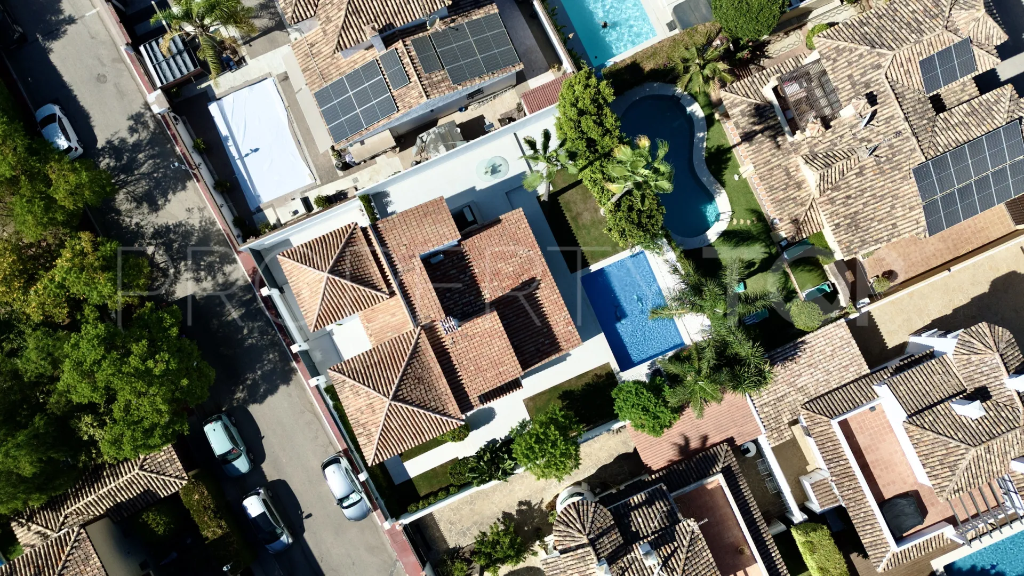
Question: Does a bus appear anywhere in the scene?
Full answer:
No, no bus is visible in the view.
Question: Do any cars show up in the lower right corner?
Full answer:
No, looking in the lower right corner, there is no car.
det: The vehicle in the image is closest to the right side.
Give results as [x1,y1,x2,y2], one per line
[321,444,373,515]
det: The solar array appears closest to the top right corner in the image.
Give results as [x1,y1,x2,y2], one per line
[918,38,976,94]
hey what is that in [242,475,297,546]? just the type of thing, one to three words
car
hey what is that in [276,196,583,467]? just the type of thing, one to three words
house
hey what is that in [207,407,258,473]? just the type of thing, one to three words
car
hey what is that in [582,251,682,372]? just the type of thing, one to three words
swimming pool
